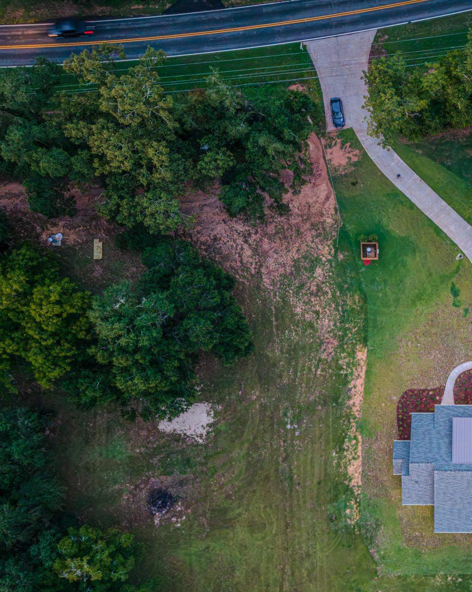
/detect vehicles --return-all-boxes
[331,96,346,129]
[53,21,91,37]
